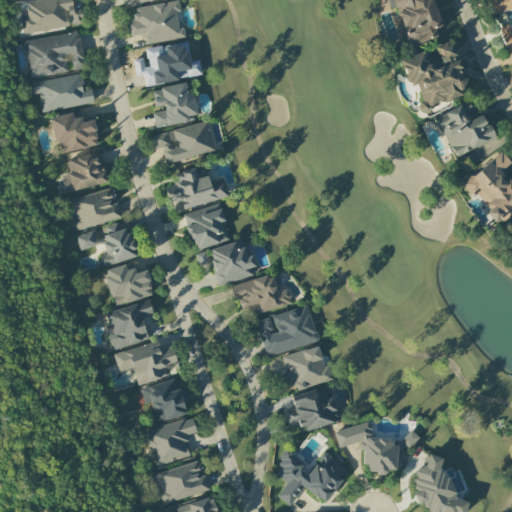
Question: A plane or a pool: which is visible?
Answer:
pool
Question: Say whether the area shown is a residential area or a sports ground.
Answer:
residential area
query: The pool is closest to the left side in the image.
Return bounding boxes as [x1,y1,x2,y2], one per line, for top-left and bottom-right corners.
[16,45,31,76]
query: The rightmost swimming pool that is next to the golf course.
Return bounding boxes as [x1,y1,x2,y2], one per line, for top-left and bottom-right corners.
[466,198,495,224]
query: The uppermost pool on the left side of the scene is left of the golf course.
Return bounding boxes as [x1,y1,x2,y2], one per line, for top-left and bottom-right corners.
[183,6,198,30]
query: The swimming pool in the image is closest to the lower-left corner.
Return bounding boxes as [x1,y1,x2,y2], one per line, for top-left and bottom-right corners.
[112,370,136,390]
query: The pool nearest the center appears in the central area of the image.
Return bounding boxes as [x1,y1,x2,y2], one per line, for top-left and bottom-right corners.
[247,244,270,270]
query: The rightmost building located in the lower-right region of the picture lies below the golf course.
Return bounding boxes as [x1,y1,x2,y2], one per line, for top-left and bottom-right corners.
[414,452,471,512]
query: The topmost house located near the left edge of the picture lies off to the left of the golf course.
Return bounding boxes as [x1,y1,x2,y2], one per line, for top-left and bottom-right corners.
[20,0,76,36]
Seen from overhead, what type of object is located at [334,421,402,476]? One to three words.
house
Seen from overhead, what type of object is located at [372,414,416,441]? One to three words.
swimming pool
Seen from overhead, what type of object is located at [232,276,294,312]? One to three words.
house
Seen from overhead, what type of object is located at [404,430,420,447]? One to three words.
gazebo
